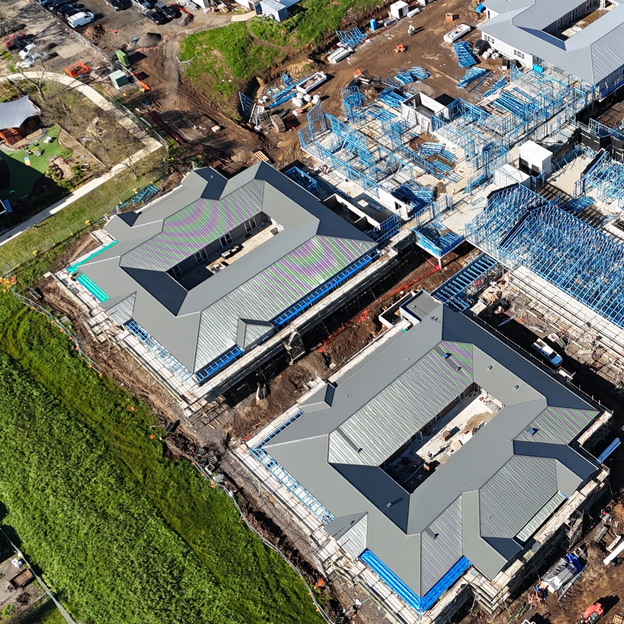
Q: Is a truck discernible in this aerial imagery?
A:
Yes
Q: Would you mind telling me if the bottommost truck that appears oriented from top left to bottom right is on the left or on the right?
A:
right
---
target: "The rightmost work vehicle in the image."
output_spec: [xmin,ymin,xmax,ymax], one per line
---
[572,588,612,624]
